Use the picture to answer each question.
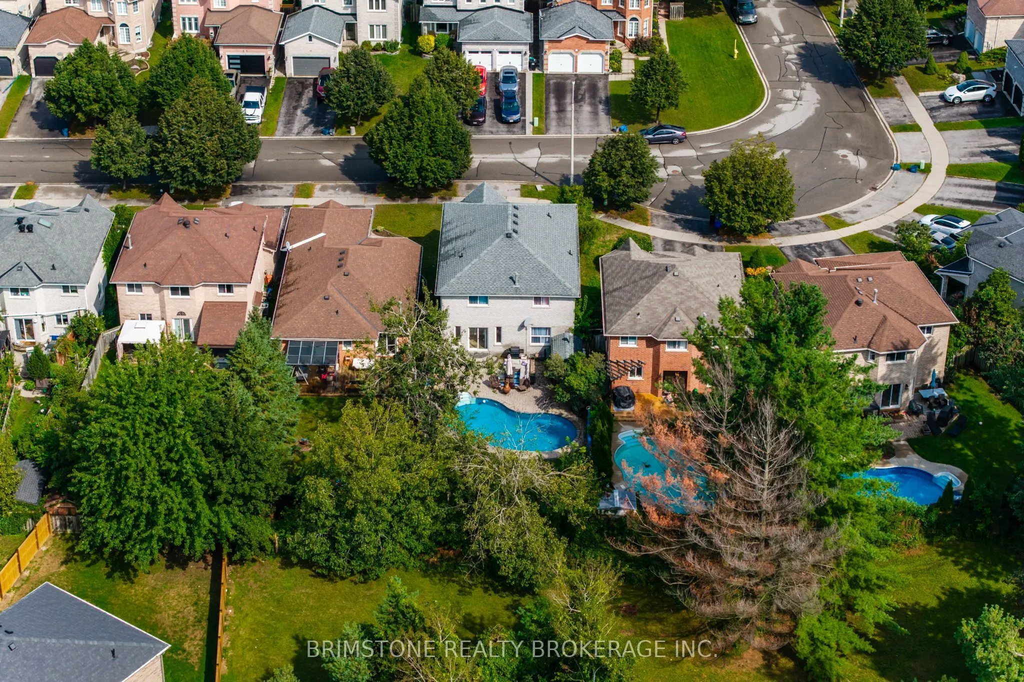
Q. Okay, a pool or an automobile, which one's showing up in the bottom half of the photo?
pool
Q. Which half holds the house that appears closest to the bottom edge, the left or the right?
left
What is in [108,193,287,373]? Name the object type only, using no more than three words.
house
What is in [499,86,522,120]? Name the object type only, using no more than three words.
car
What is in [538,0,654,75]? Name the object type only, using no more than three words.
house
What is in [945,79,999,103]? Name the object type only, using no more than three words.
car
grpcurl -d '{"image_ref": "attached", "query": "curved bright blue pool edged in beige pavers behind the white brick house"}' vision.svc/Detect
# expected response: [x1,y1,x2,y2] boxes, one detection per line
[451,396,580,453]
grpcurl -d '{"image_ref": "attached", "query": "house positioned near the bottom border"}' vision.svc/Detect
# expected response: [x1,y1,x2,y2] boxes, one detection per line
[0,575,173,682]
